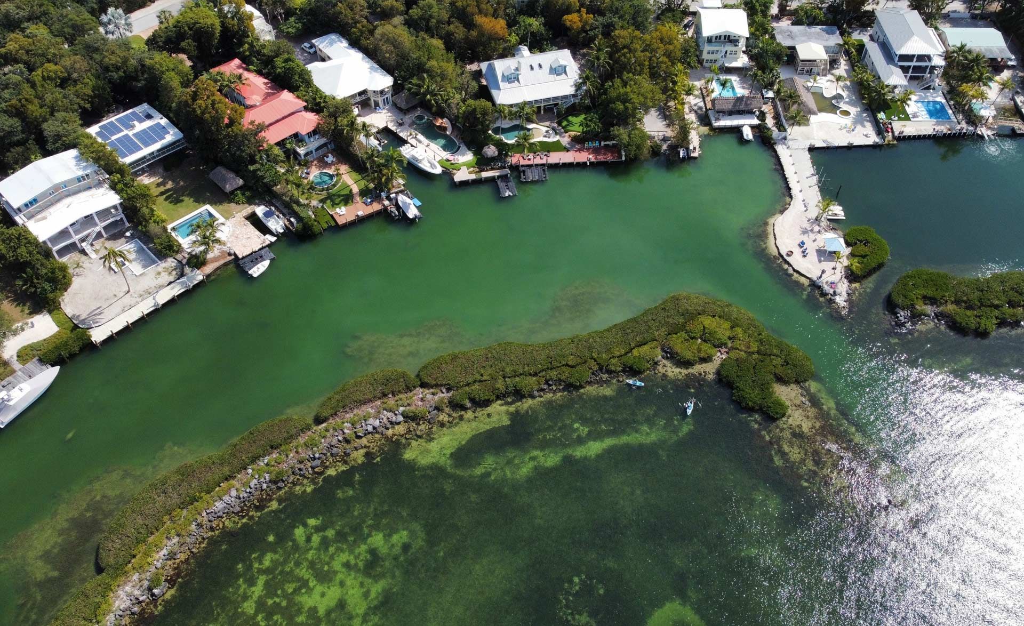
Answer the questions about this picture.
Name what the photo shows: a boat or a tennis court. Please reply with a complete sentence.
Of the two, only a boat appears.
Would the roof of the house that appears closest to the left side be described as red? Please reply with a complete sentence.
No, from above the roof of the house that appears closest to the left side looks white.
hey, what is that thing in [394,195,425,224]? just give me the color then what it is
white boat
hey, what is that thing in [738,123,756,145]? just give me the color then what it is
white boat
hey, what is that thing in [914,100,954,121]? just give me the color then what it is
blue swimming pool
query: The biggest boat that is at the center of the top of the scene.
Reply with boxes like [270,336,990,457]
[395,144,442,176]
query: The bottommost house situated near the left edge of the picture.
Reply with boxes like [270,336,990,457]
[0,146,130,262]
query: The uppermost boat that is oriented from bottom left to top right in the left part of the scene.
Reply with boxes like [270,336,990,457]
[249,259,270,277]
